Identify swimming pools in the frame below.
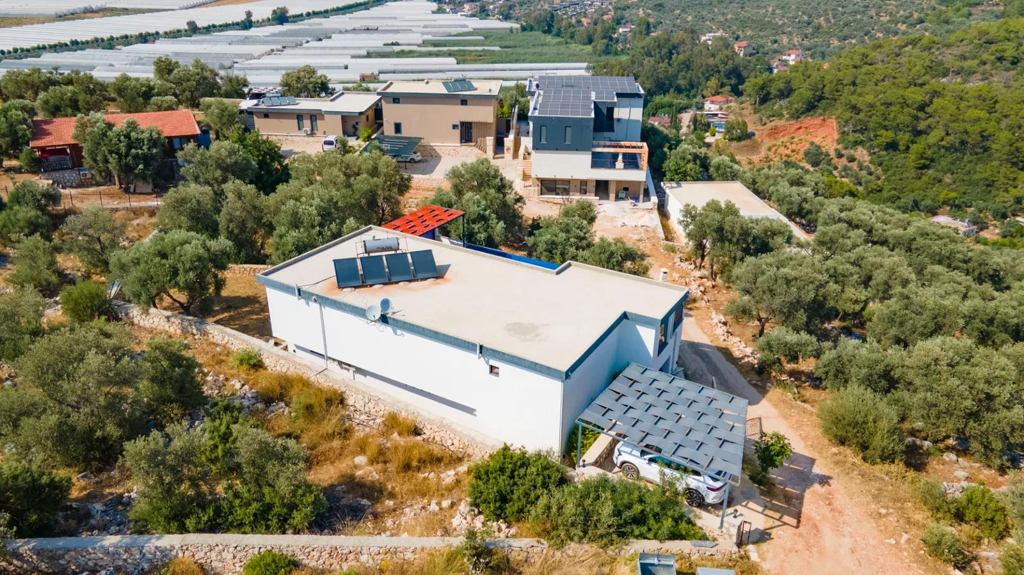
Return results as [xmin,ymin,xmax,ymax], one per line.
[454,236,563,268]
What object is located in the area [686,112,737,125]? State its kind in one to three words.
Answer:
shed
